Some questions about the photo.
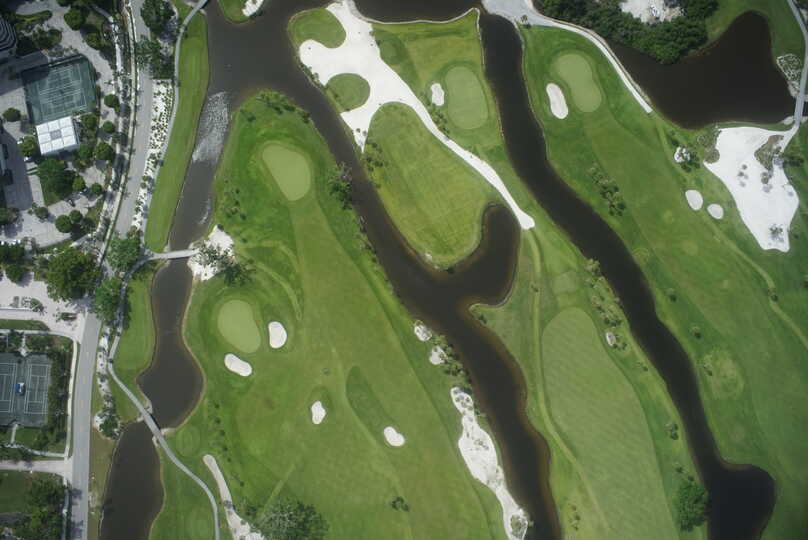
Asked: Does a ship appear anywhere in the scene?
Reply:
No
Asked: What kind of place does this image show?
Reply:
golf course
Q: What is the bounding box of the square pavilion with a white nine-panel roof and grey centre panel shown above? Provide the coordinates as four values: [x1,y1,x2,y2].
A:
[36,118,82,155]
